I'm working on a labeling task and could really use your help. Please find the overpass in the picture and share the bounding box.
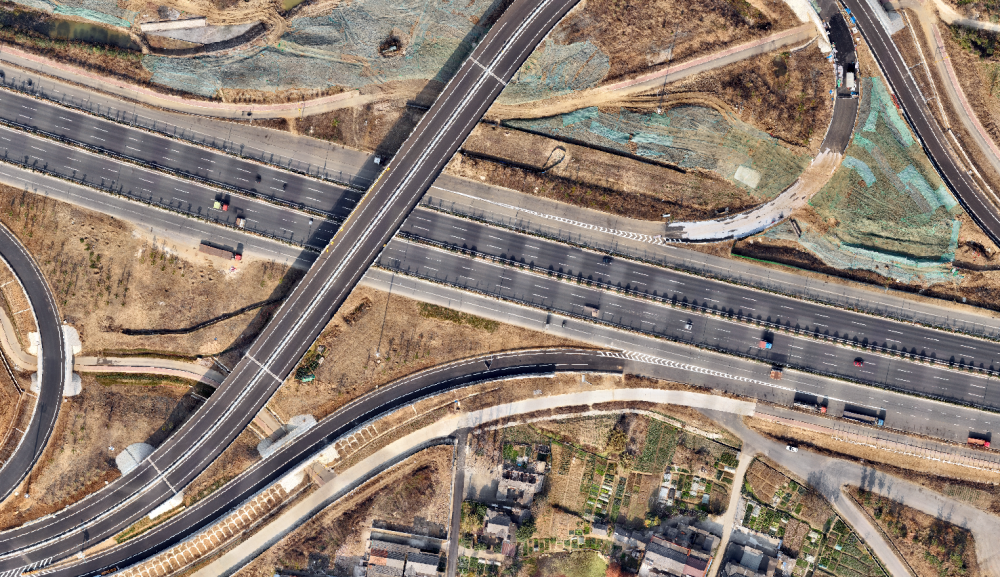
[0,0,581,577]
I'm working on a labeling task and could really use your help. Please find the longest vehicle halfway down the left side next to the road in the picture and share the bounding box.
[198,243,242,260]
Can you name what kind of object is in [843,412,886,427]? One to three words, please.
vehicle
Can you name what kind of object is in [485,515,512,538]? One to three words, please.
house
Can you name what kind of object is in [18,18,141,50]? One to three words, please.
pond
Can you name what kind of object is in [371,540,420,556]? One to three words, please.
shed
